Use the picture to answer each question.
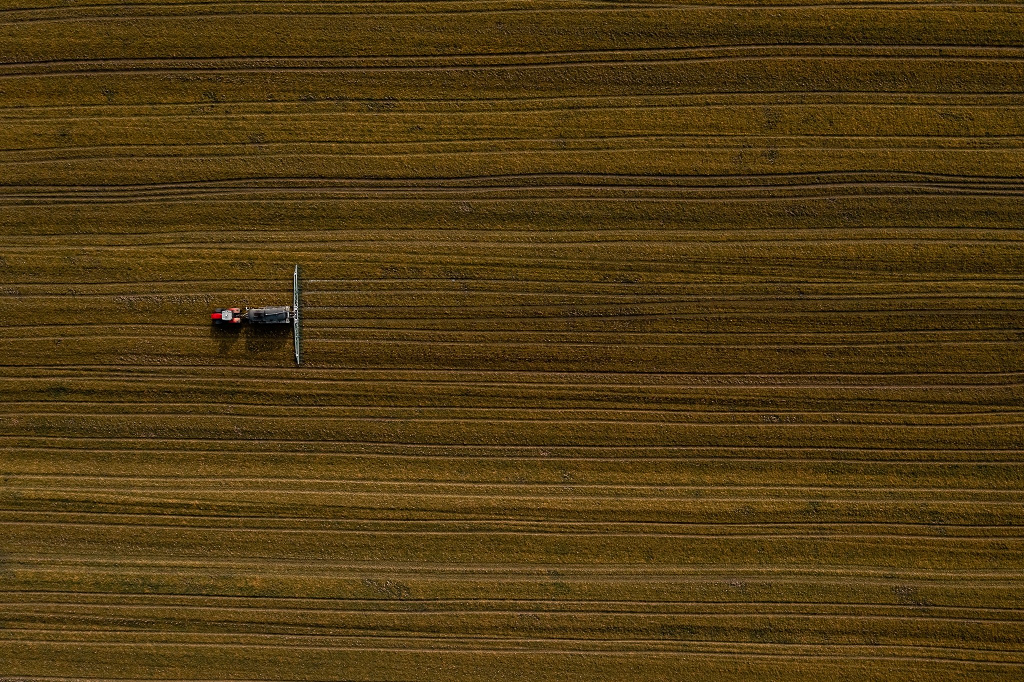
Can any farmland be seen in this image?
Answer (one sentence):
Yes, farmland can be seen from above here.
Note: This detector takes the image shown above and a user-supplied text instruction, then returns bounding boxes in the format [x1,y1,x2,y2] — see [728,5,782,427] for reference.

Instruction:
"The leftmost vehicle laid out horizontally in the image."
[211,308,247,324]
